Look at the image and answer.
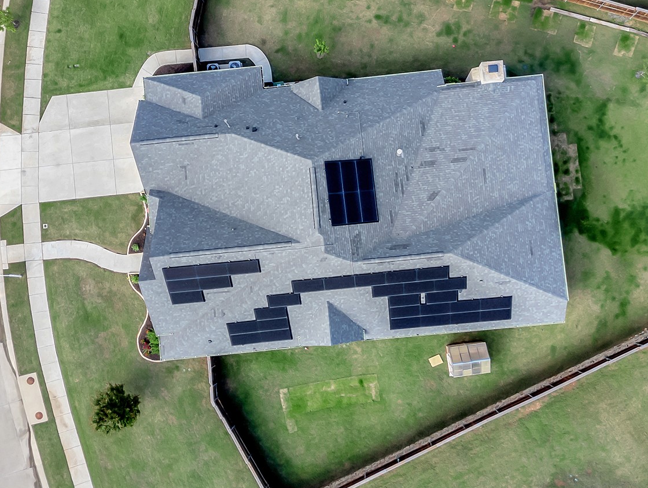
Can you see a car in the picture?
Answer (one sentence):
No, I find no car anywhere in the image.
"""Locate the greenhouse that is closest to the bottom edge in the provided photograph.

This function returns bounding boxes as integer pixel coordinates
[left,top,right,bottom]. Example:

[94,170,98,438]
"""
[446,339,491,377]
